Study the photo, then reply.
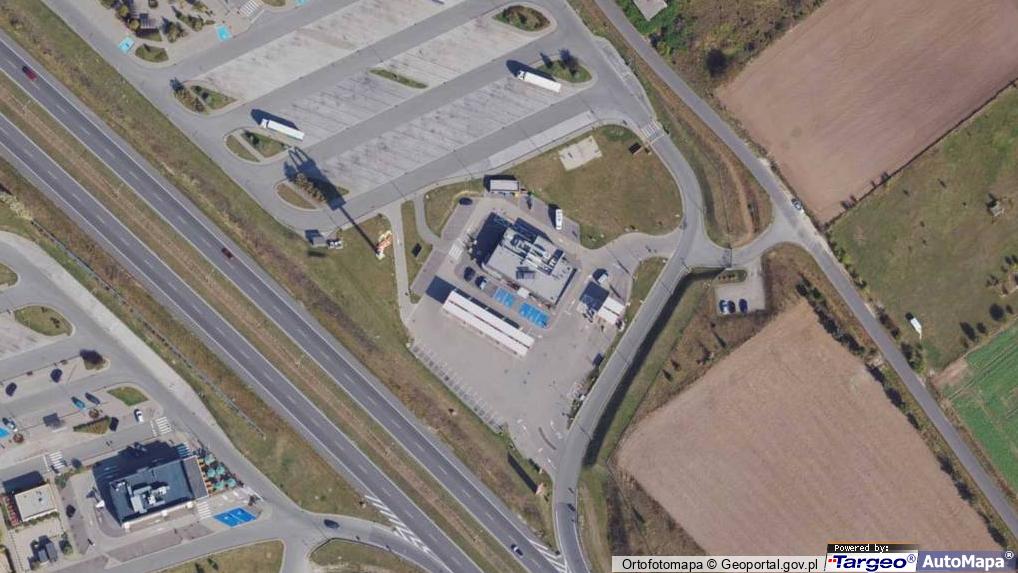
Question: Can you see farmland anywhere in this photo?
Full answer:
Yes, there's farmland in this view.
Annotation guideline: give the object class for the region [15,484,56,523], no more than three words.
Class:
building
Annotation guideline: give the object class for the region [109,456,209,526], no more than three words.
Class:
building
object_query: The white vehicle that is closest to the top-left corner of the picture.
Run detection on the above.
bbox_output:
[260,118,304,141]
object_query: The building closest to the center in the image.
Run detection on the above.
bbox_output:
[481,230,581,308]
